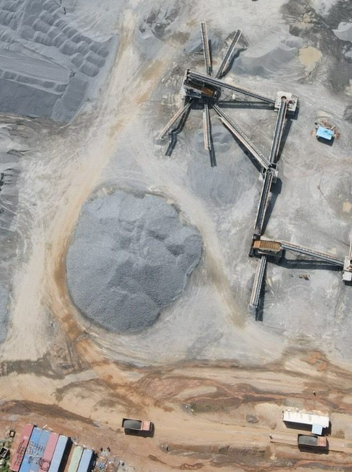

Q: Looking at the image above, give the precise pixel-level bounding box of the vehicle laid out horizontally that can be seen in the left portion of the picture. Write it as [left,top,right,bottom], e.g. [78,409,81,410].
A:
[122,420,155,433]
